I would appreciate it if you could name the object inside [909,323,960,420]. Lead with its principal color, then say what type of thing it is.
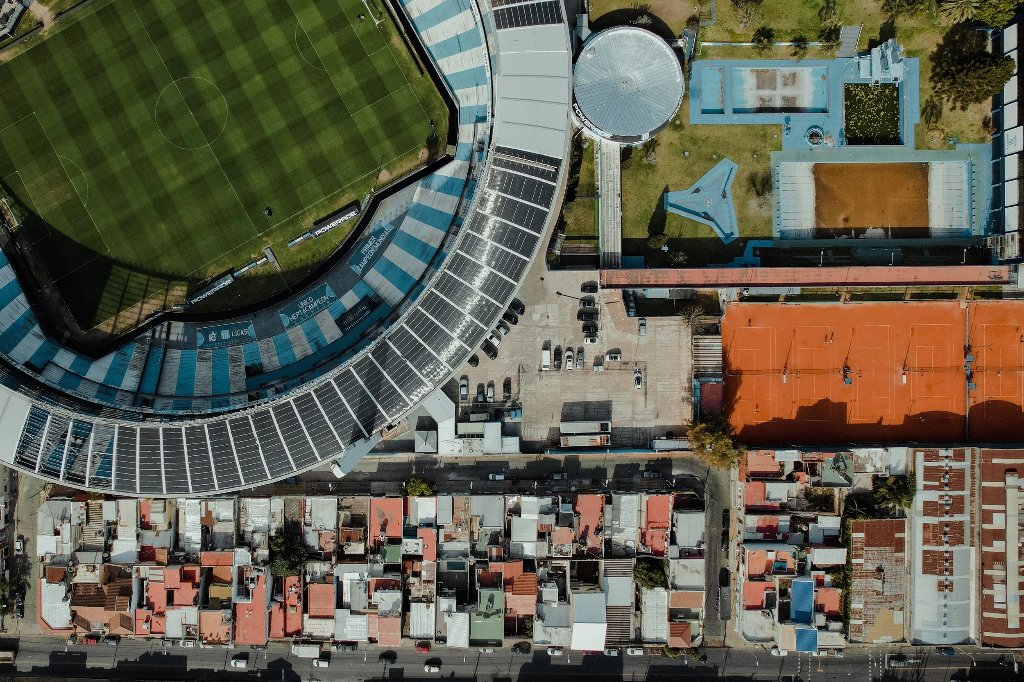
orange tennis court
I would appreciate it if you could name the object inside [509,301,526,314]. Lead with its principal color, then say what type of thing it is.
black vehicle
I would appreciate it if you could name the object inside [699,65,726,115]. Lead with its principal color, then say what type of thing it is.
blue swimming pool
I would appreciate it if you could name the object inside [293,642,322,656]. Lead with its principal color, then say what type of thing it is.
white vehicle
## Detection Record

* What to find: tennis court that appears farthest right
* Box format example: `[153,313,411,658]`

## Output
[975,323,1024,420]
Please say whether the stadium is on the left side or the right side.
left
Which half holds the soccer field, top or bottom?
top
